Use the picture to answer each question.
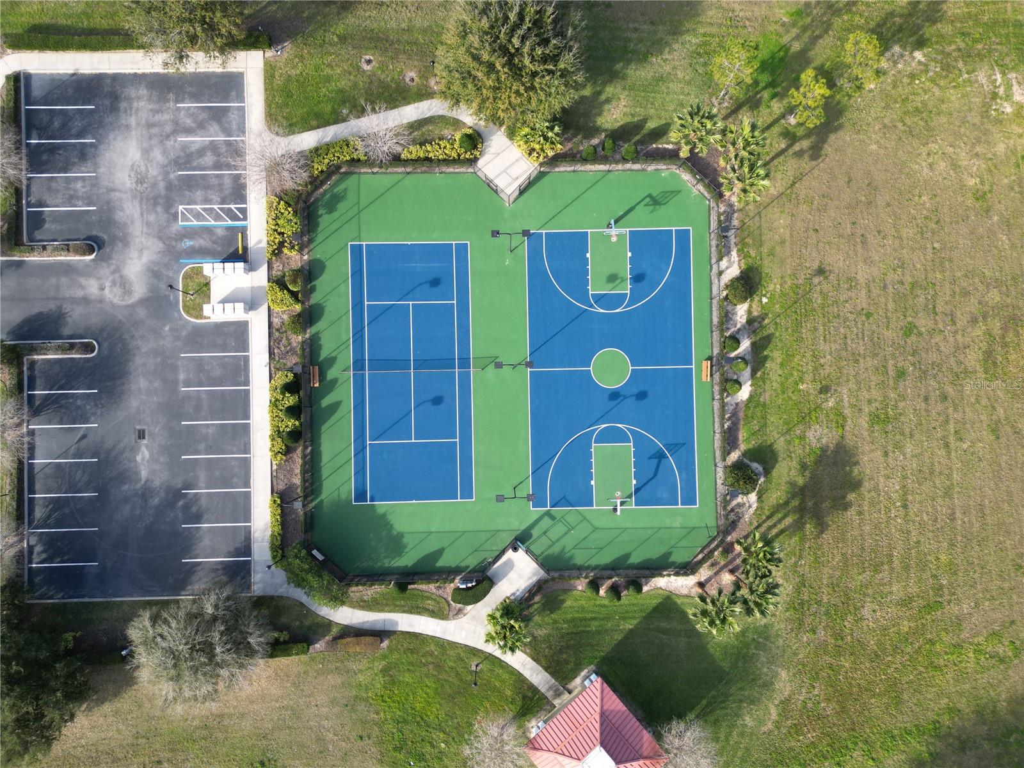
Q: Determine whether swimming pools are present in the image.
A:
No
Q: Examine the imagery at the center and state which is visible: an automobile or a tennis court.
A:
tennis court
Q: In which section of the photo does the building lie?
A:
bottom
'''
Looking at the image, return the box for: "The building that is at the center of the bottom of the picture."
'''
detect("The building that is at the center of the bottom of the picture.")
[519,674,669,768]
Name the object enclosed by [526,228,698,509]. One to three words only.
basketball court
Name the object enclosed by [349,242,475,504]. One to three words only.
tennis court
